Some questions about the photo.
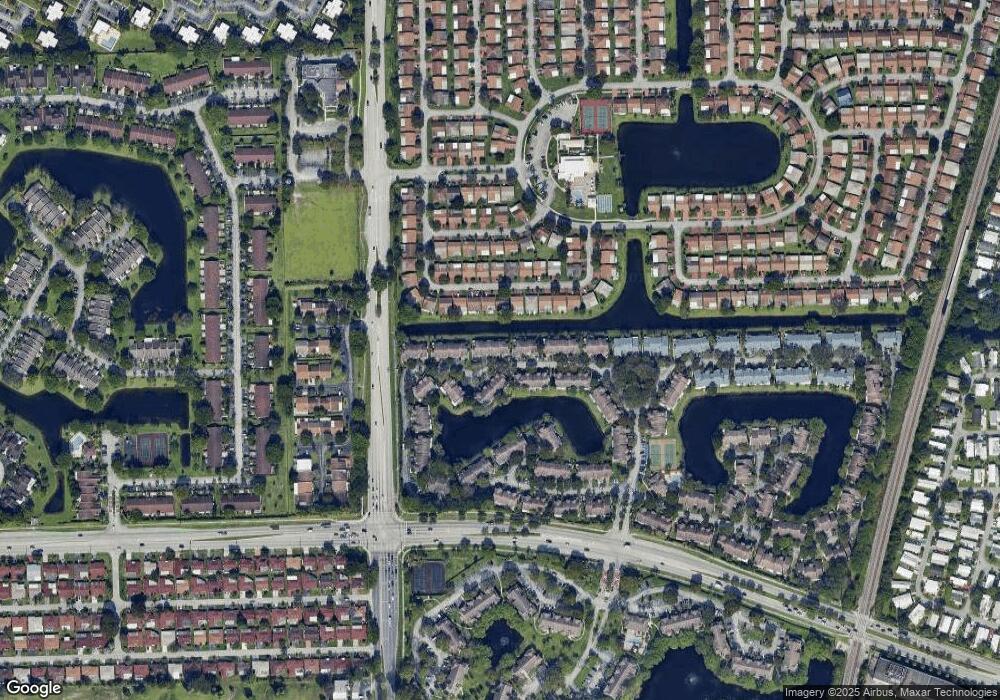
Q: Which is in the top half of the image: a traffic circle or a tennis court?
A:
tennis court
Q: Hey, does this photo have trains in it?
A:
Yes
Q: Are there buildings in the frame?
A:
Yes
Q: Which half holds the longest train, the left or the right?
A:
right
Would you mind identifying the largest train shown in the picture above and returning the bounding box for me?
[944,226,972,315]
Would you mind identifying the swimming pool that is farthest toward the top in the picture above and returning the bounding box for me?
[91,27,120,51]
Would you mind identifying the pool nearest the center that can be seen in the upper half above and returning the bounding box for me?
[571,165,598,208]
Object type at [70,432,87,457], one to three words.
swimming pool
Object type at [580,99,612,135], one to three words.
tennis court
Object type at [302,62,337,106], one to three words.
building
